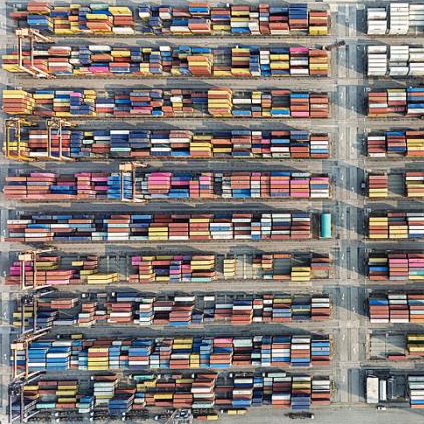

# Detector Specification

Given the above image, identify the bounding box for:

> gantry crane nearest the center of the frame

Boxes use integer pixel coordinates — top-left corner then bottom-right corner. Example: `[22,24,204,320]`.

[116,153,154,204]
